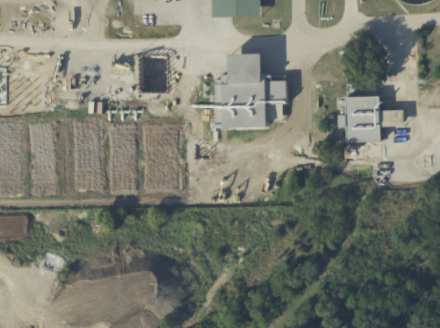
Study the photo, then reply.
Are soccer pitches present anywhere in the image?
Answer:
No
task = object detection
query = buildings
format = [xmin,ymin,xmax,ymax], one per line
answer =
[212,0,260,18]
[338,97,404,142]
[44,253,66,272]
[214,54,287,130]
